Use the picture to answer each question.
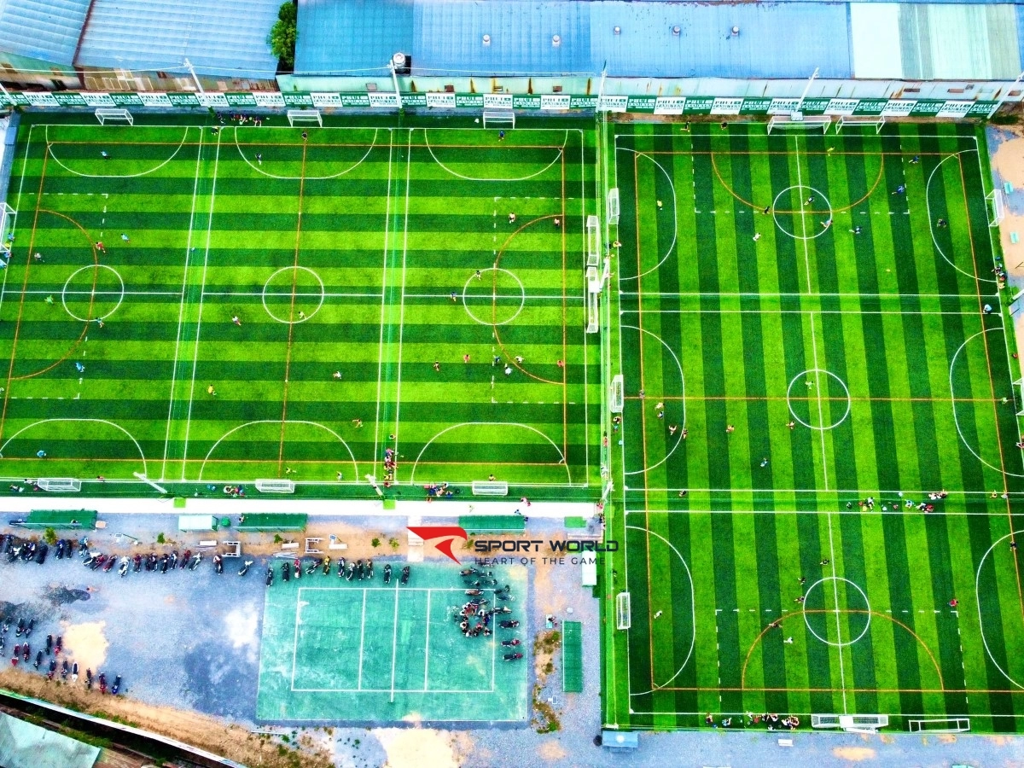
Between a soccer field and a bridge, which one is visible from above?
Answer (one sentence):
I can see a soccer field in this picture.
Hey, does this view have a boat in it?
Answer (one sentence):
No, there's no boat here.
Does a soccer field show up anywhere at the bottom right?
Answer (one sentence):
Yes, a soccer field appears at the bottom right.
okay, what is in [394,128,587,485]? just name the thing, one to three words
soccer field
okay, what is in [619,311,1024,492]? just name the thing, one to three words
soccer field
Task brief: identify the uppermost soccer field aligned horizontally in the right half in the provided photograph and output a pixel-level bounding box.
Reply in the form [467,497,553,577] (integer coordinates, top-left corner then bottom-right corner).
[615,135,1000,296]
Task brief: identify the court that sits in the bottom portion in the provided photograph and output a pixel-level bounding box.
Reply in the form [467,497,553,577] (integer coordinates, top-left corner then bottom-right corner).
[258,560,528,722]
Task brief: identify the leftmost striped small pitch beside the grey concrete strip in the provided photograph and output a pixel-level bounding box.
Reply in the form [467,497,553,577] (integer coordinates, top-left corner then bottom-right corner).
[0,124,202,481]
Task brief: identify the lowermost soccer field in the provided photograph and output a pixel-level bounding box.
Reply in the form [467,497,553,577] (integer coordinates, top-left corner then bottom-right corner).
[625,511,1024,716]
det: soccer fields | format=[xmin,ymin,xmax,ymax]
[0,124,202,481]
[626,138,1024,712]
[394,128,587,485]
[619,311,1024,492]
[625,511,1024,716]
[182,126,392,483]
[0,128,581,481]
[615,135,1000,296]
